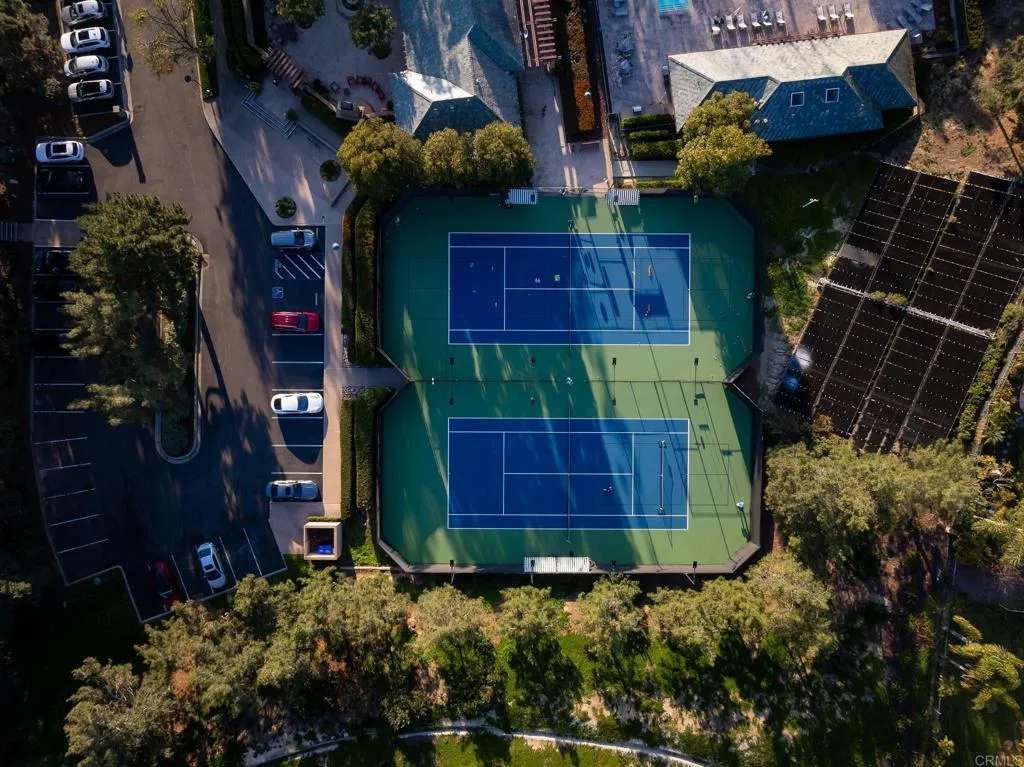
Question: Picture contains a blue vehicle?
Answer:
Yes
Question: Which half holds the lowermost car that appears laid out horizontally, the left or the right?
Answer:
left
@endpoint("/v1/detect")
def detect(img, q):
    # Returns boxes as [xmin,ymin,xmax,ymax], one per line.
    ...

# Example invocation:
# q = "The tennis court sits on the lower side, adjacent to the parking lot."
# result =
[380,382,752,564]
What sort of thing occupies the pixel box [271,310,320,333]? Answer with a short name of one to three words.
car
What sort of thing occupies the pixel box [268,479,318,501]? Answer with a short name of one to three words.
car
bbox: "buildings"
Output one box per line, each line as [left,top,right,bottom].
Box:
[390,0,524,146]
[668,28,918,140]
